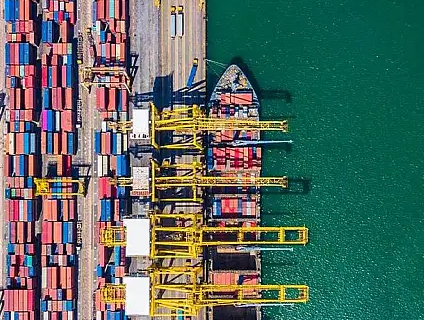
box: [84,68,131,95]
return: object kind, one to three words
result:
container crane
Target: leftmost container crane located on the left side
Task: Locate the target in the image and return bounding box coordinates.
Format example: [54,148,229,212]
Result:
[33,178,86,199]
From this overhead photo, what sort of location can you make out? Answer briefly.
port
